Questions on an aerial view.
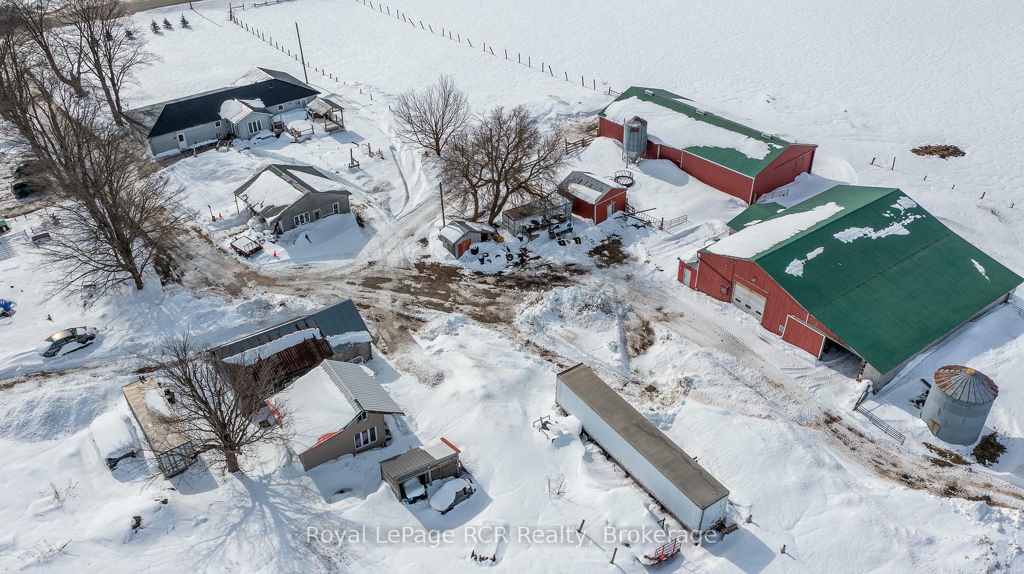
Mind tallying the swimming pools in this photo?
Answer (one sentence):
There are no swimming pools in this view.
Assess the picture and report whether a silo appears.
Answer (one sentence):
Yes, the frame does contain a silo.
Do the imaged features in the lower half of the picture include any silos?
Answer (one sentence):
Yes, a silo shows up in the lower half of the picture.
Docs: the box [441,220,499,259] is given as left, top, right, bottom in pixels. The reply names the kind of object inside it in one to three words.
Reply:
shed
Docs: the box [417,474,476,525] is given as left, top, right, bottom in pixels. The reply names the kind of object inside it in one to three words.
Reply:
car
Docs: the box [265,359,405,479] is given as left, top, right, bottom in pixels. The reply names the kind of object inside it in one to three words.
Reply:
building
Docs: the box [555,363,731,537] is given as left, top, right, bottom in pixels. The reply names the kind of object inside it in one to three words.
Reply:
trailer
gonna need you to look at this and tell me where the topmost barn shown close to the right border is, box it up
[695,185,1023,397]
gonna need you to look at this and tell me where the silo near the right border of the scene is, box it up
[915,362,1000,444]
